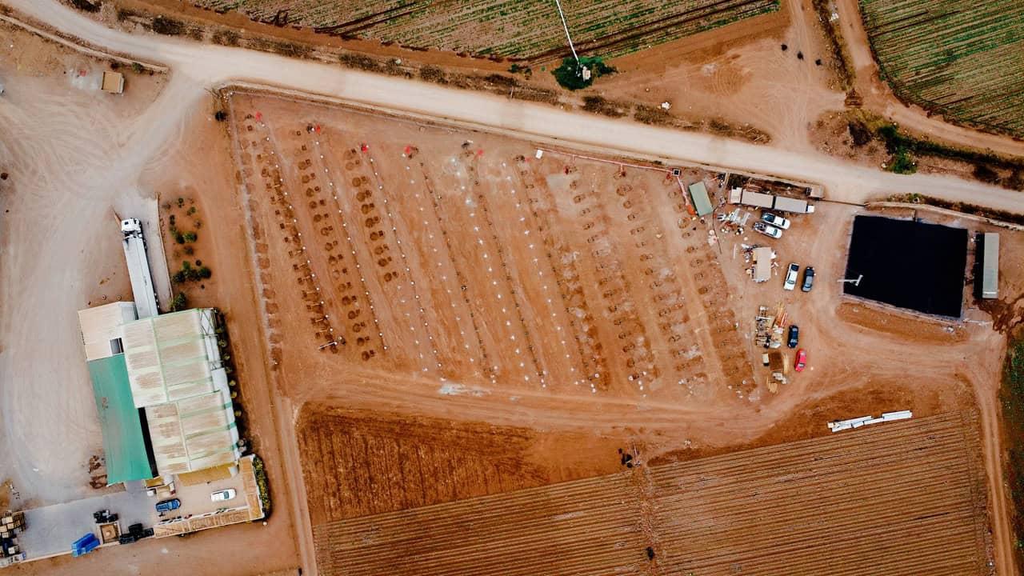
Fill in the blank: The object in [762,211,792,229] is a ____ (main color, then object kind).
white vehicle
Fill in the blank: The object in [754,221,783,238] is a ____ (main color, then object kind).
white vehicle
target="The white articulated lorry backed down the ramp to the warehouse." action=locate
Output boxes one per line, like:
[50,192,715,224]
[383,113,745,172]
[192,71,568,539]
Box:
[117,219,155,319]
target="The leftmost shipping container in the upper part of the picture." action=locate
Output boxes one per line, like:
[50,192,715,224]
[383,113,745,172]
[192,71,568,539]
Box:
[686,181,713,217]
